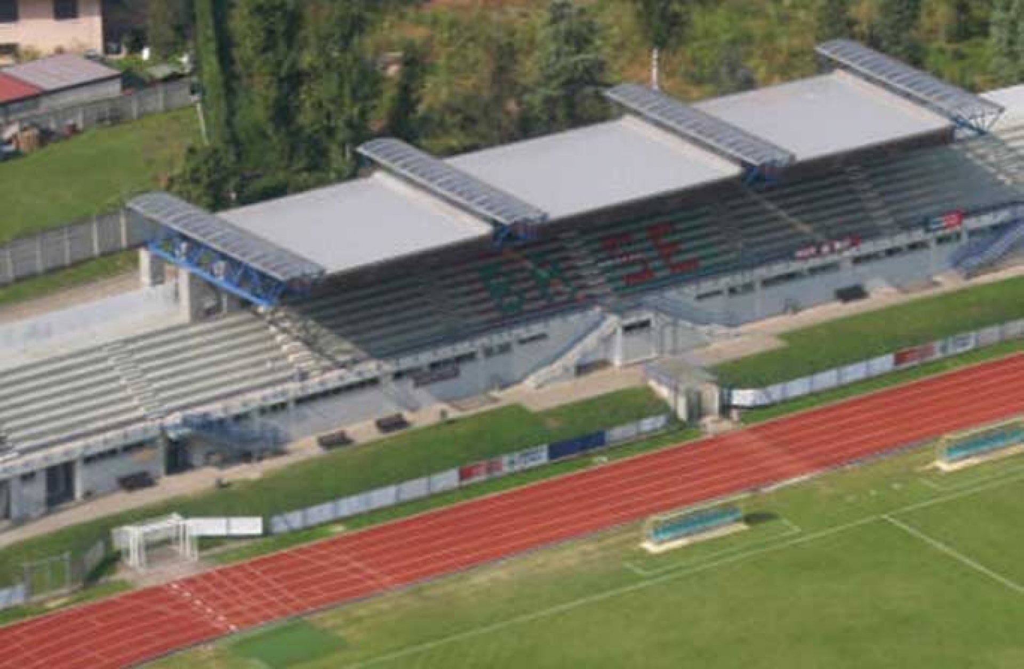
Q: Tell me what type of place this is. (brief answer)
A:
sports ground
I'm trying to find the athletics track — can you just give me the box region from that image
[0,353,1024,669]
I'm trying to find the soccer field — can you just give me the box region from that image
[117,417,1024,669]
